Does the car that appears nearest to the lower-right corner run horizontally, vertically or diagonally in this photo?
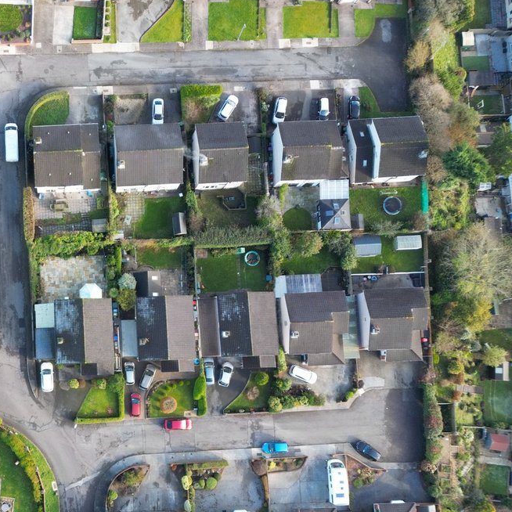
diagonally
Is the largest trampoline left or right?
right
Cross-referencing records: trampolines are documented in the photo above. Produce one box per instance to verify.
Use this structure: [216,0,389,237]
[381,195,406,216]
[243,250,261,265]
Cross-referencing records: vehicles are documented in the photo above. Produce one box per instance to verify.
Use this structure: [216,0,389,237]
[288,364,317,384]
[152,98,164,123]
[218,362,233,386]
[316,96,330,120]
[203,360,216,384]
[139,363,157,392]
[325,456,348,506]
[130,393,142,417]
[4,126,19,161]
[217,95,238,122]
[263,443,287,455]
[164,418,192,432]
[355,439,381,462]
[273,98,286,122]
[123,362,135,385]
[41,363,54,391]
